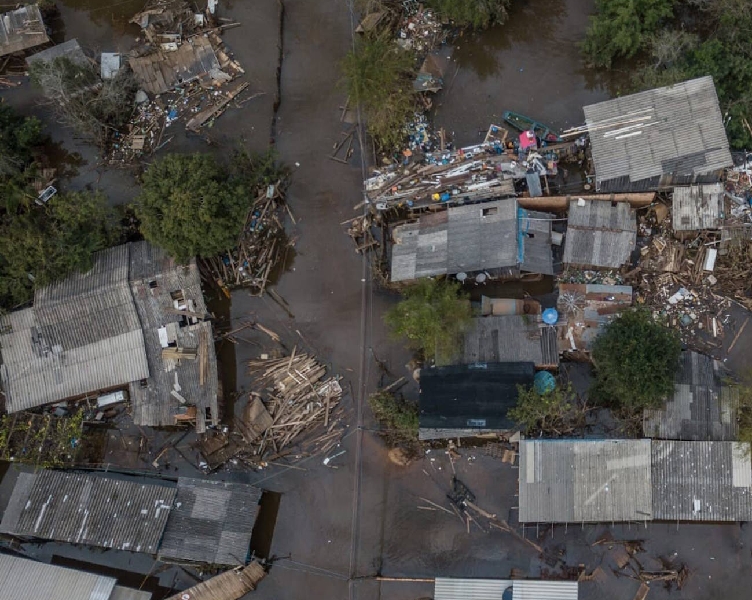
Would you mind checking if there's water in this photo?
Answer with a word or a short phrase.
Yes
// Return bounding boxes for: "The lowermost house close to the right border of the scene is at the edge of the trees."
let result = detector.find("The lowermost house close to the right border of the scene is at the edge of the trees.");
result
[511,437,752,538]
